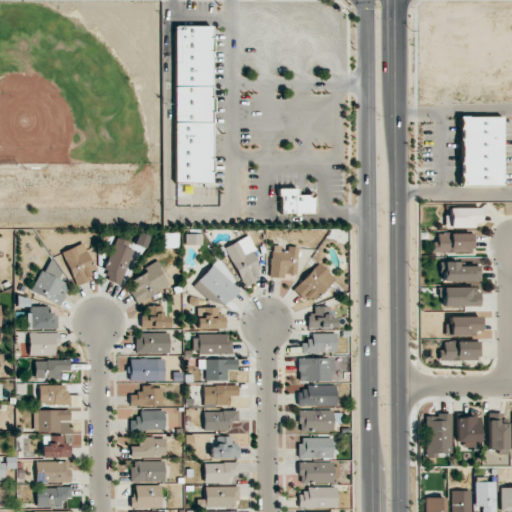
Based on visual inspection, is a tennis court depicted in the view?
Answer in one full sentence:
No, I find no tennis court anywhere in the image.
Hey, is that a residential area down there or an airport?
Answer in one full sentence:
This image shows a residential area.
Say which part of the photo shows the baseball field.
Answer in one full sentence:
The baseball field is located in the top left region of the scene.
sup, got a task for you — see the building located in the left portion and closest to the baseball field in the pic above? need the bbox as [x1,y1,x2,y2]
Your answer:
[177,24,215,183]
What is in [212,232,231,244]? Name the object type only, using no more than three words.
swimming pool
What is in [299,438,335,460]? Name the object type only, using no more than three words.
house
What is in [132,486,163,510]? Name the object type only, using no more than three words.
house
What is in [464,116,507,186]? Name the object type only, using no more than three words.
building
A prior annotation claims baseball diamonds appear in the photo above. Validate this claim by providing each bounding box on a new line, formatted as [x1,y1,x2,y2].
[0,3,150,166]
